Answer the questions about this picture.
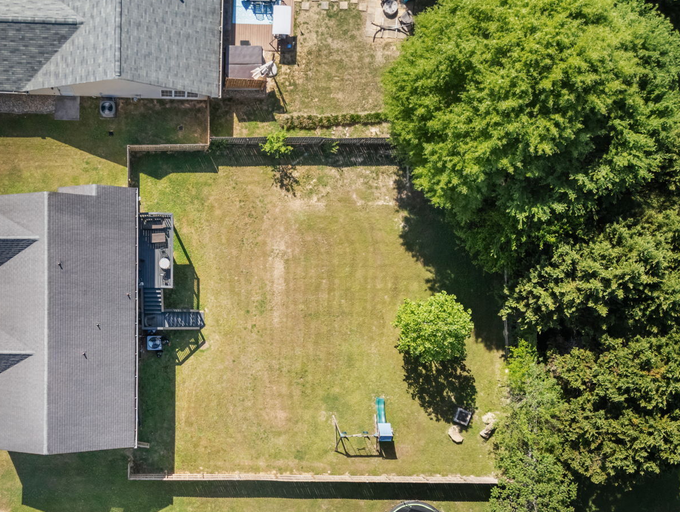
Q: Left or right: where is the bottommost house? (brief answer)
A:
left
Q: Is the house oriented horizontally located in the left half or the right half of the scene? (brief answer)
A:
left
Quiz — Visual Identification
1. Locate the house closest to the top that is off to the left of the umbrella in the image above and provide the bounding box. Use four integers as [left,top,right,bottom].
[0,0,226,106]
